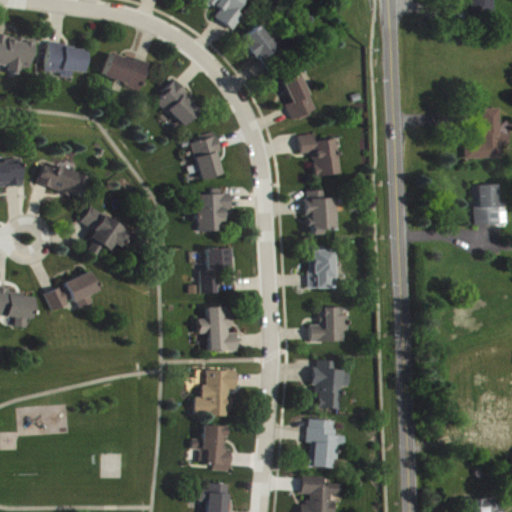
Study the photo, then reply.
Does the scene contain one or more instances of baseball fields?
No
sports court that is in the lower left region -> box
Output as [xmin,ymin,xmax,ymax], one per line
[100,452,122,478]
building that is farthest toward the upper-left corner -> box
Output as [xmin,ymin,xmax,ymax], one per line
[0,34,40,74]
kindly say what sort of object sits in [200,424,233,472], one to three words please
house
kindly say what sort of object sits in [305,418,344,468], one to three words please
house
